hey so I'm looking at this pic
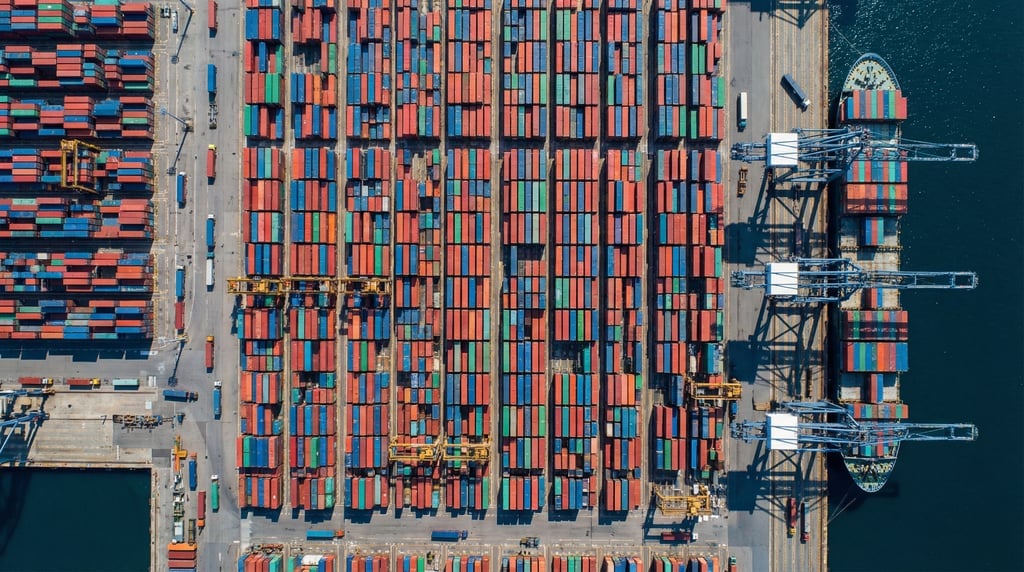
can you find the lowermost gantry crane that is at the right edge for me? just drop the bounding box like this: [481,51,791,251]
[730,391,977,453]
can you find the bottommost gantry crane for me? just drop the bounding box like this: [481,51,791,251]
[655,483,712,513]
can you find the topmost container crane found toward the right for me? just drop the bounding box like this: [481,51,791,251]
[730,131,977,191]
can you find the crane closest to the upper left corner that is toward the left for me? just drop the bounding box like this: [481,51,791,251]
[61,140,101,193]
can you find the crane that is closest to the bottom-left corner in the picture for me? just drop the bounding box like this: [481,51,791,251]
[0,388,52,434]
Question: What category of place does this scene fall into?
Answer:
port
